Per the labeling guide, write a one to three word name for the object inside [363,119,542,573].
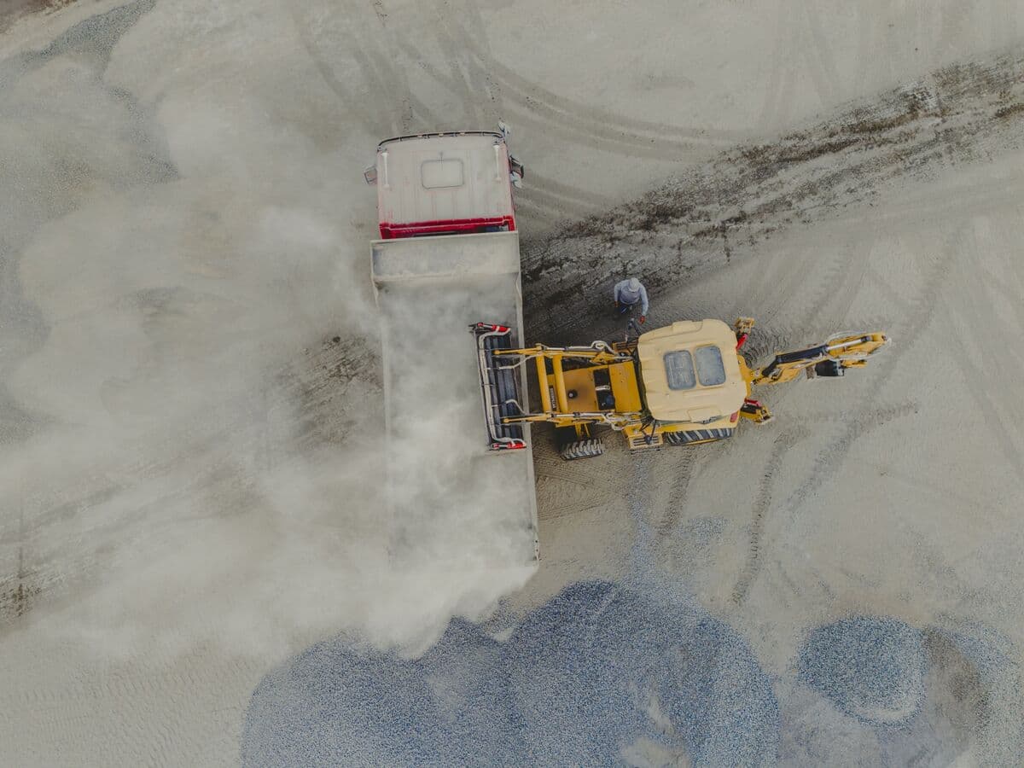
truck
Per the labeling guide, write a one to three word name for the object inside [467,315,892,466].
work vehicle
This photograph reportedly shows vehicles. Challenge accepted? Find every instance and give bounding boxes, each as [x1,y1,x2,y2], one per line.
[467,315,892,466]
[363,119,542,573]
